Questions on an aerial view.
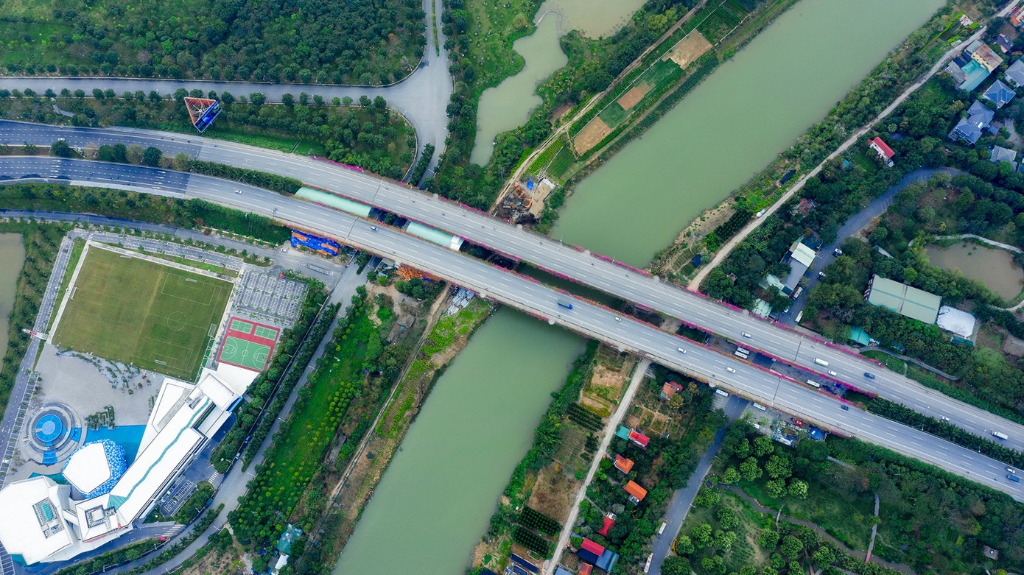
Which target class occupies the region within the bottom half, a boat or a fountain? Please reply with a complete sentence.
The one visible within the bottom half is a fountain.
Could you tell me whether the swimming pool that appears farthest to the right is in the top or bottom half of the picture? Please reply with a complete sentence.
The swimming pool that appears farthest to the right sits in the bottom half of the picture.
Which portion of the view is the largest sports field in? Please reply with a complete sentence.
The largest sports field appears toward the left of the photo.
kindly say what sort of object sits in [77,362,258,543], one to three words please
building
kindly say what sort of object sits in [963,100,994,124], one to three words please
house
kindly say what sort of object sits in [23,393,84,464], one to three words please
fountain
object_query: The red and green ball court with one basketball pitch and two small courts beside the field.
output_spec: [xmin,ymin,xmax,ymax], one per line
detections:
[217,316,280,371]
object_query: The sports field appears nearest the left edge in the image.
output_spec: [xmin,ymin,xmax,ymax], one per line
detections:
[47,241,239,383]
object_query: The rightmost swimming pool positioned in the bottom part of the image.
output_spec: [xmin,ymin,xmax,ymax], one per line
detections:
[83,425,146,471]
